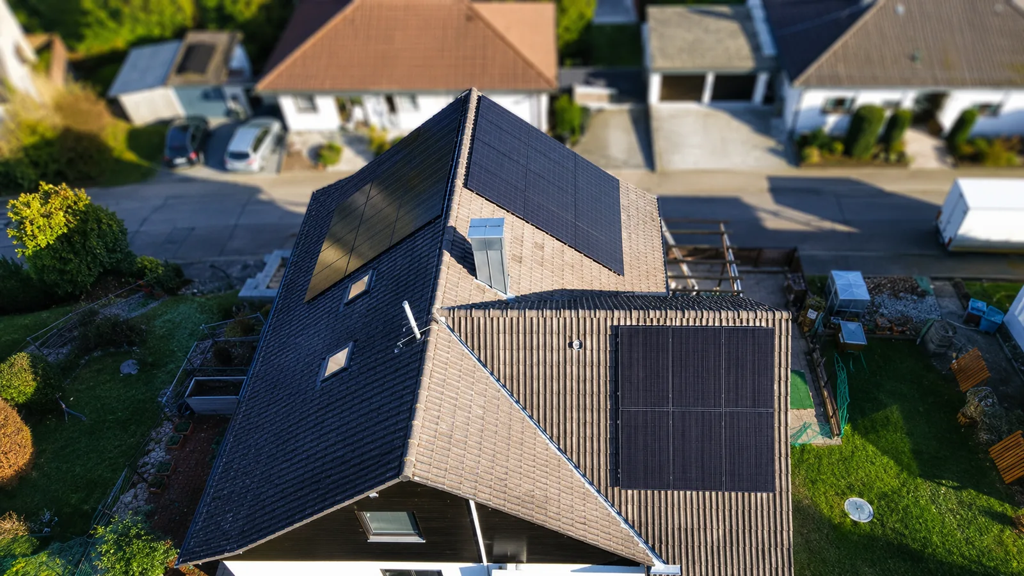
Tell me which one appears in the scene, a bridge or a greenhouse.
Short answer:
greenhouse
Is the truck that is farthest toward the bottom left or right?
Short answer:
right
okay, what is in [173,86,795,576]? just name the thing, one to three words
house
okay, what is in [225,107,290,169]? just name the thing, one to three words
car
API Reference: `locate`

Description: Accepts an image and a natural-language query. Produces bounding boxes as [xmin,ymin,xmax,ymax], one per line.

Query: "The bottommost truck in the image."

[929,173,1024,264]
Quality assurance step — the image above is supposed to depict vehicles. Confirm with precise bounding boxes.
[170,108,228,160]
[929,173,1024,264]
[225,107,290,169]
